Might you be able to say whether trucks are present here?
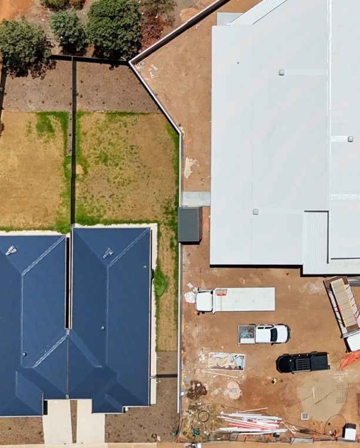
Yes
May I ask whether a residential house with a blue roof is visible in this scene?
Yes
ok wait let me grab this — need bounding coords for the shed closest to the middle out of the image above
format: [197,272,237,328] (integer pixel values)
[177,207,202,242]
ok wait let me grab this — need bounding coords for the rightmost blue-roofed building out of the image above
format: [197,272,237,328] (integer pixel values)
[67,226,152,414]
